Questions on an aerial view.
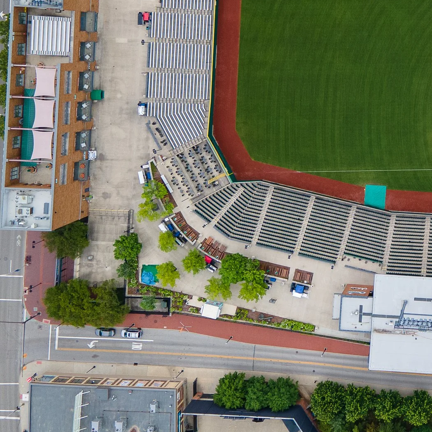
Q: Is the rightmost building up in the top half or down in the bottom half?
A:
bottom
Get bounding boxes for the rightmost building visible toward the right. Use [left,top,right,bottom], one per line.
[333,286,374,334]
